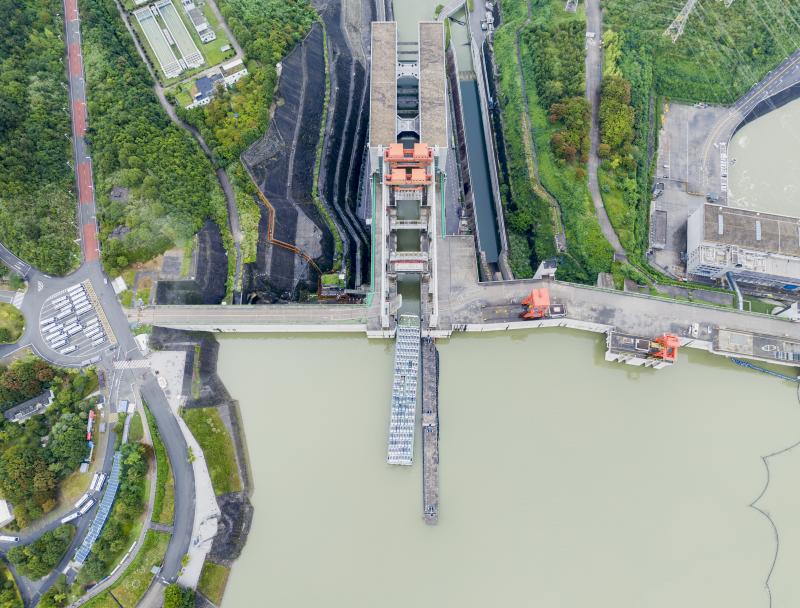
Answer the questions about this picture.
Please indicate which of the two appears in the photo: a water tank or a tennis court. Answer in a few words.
water tank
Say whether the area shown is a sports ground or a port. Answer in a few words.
port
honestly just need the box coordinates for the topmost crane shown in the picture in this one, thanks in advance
[380,140,437,173]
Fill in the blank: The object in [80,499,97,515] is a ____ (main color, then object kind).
white vehicle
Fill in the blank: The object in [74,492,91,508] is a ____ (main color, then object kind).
white vehicle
